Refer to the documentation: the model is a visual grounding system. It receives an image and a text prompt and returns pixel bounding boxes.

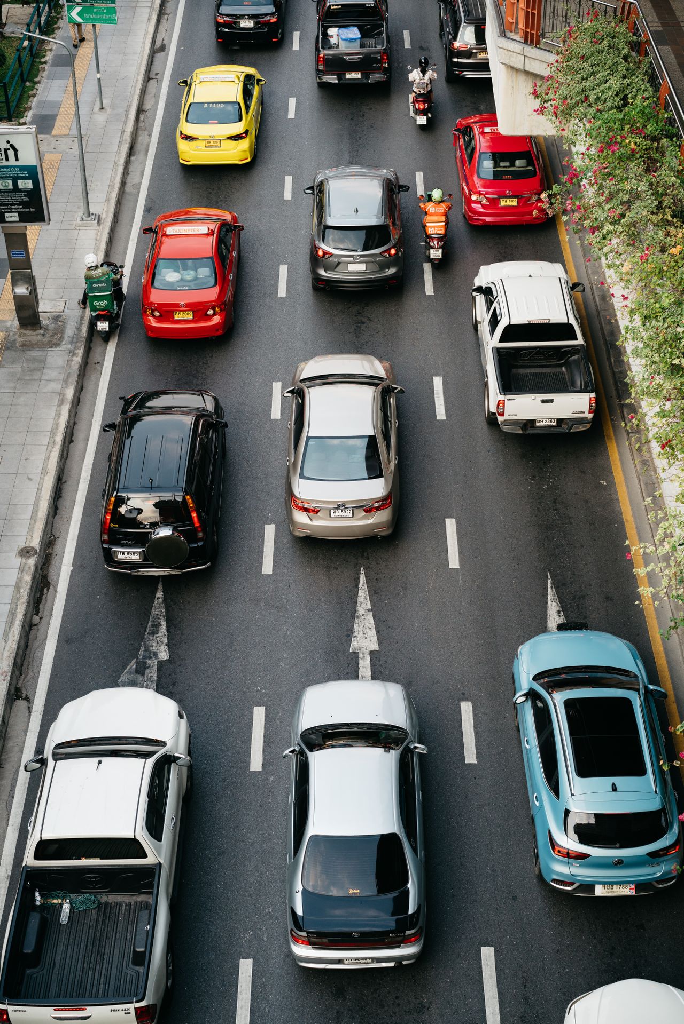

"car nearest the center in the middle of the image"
[283,357,405,538]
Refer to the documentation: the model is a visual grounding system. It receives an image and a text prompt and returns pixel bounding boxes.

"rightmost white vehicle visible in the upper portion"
[471,264,602,435]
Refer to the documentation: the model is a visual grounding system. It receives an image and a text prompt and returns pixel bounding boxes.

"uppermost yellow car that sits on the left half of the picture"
[175,67,263,165]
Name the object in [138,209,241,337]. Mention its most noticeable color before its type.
red car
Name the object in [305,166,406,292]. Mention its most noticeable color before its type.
gray car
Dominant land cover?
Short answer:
paved ground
